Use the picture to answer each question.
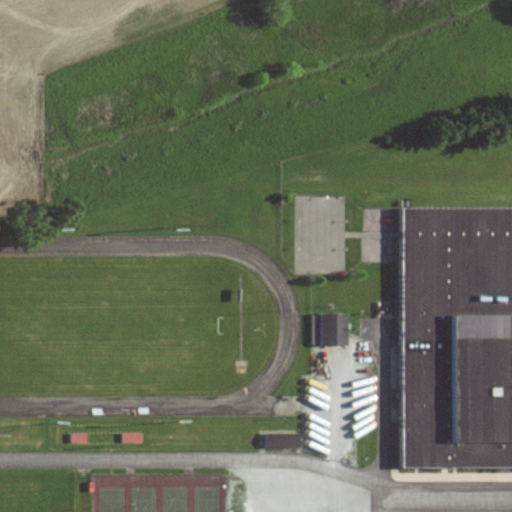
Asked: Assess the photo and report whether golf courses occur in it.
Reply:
No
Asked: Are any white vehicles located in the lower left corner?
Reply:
No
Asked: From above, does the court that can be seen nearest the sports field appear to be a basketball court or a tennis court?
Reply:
basketball court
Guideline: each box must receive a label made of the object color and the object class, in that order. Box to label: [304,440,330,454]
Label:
white vehicle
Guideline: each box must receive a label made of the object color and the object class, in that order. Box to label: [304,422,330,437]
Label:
white vehicle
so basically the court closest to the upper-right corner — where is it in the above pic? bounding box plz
[294,195,346,273]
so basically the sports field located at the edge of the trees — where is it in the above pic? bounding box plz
[0,256,280,397]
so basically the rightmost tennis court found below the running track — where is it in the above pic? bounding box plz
[190,475,226,512]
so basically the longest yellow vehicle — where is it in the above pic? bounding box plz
[303,378,329,392]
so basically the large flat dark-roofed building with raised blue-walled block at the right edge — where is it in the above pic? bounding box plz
[399,208,512,468]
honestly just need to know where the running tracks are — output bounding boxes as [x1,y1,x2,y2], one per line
[0,236,300,416]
